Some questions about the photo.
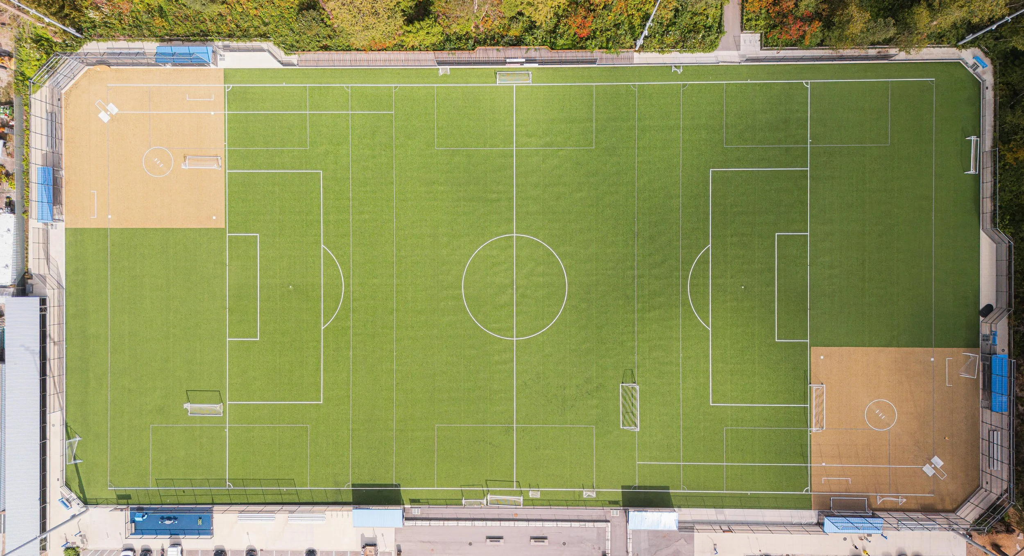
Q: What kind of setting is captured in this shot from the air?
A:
sports ground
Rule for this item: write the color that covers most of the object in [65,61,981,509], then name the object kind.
green sports field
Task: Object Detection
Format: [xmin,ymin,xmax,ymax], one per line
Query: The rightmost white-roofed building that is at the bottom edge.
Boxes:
[626,505,678,531]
